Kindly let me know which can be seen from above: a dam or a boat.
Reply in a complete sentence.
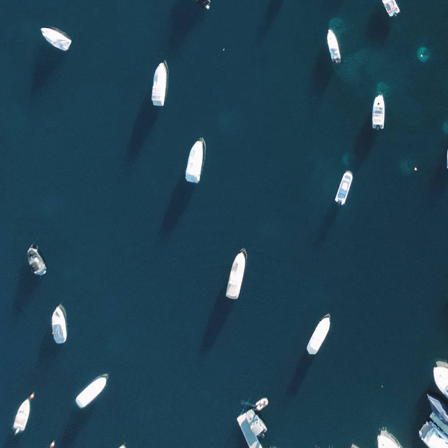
Of the two, only a boat appears.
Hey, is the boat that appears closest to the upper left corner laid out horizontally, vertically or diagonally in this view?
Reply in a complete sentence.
The boat that appears closest to the upper left corner runs diagonally in the image.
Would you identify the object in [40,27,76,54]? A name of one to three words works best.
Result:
boat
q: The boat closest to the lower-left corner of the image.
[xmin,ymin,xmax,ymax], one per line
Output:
[12,400,32,435]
